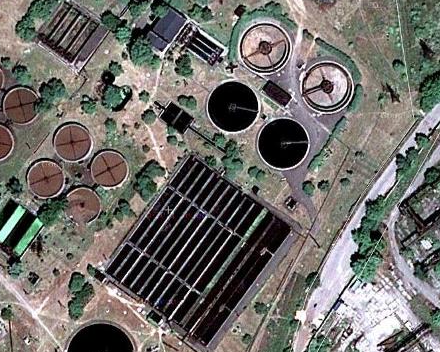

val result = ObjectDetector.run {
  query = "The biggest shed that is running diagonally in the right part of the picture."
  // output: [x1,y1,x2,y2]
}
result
[263,80,291,106]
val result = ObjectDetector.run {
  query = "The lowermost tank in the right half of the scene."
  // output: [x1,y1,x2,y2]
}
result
[257,117,312,170]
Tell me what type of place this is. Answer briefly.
industrial area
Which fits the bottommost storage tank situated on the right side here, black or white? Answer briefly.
black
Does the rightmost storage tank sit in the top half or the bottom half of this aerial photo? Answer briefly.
top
